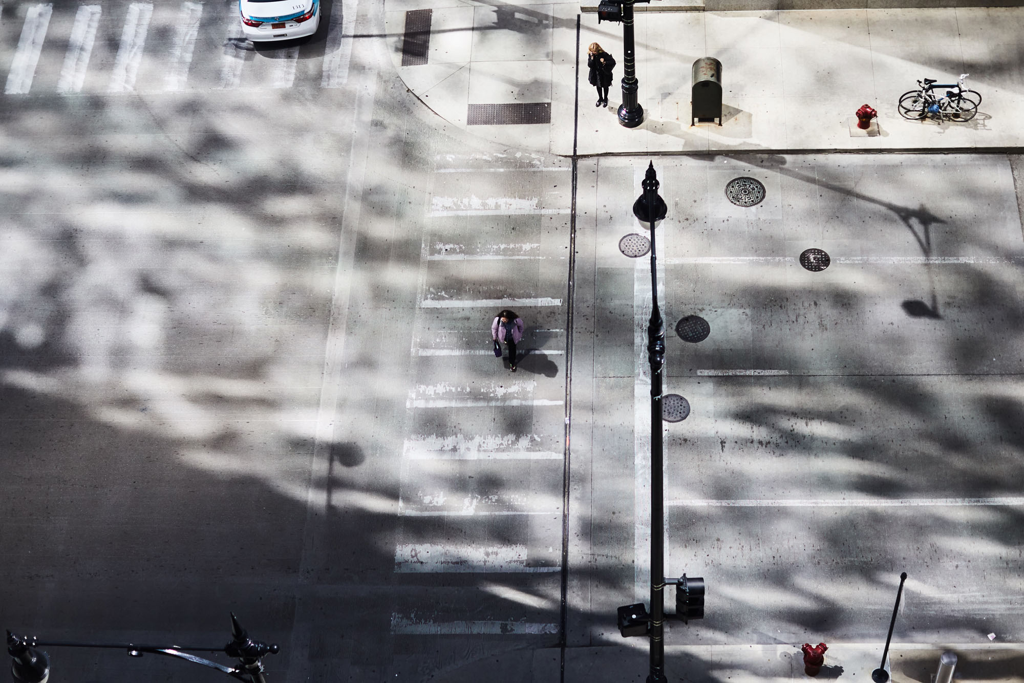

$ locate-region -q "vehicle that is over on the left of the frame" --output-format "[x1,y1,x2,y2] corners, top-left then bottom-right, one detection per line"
[236,0,329,43]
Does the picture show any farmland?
No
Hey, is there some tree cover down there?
No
